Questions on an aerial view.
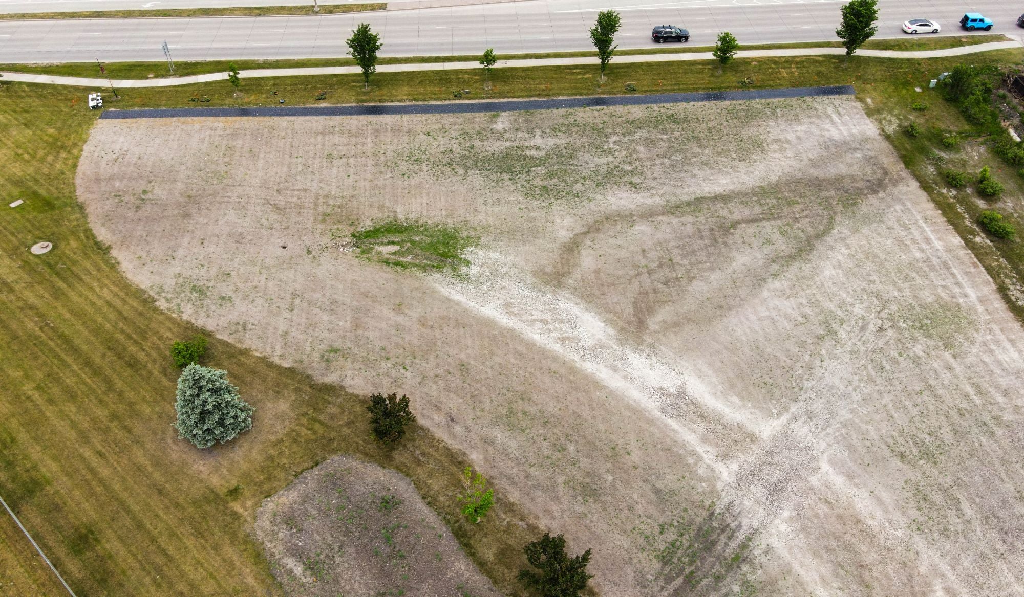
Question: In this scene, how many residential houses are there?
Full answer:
The picture shows no residential houses.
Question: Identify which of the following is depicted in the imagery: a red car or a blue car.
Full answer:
It is a blue car that can be seen here.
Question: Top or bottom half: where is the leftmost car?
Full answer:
The leftmost car sits in the top half of the picture.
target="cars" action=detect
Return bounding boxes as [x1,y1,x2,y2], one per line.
[652,22,691,43]
[1016,13,1024,28]
[903,18,942,34]
[961,13,996,31]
